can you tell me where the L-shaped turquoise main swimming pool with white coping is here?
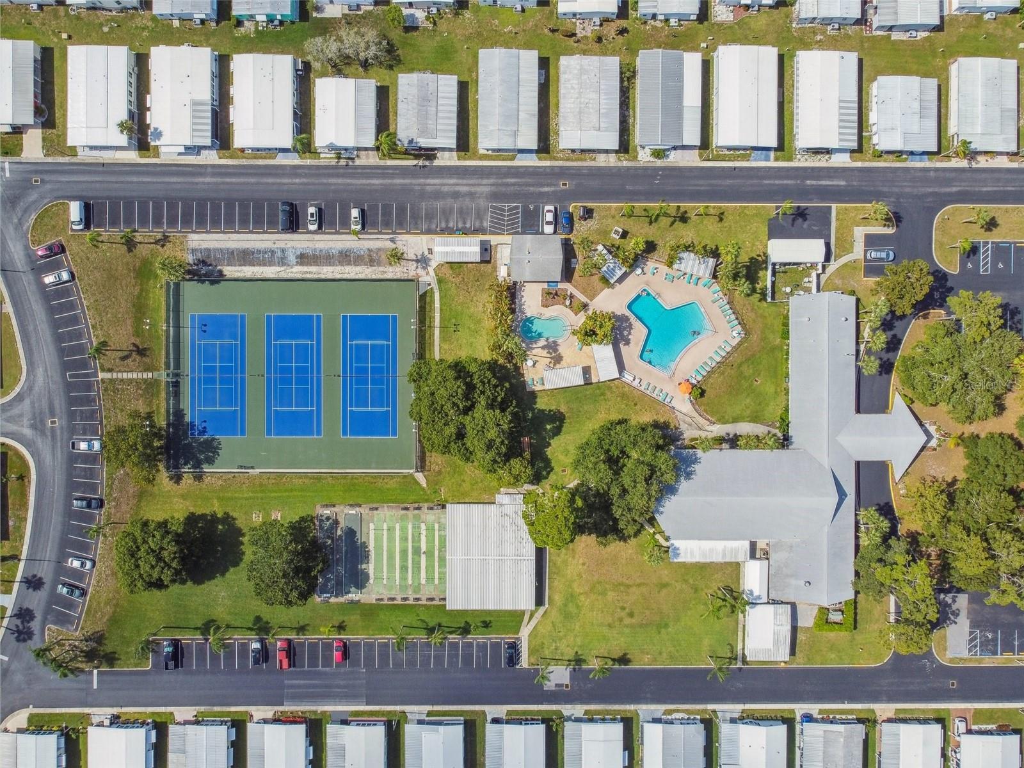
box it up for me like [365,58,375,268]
[626,286,718,377]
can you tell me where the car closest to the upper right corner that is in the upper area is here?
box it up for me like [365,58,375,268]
[867,249,893,261]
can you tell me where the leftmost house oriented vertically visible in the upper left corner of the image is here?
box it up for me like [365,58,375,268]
[0,39,42,132]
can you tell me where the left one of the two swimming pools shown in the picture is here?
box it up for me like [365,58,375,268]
[519,314,572,342]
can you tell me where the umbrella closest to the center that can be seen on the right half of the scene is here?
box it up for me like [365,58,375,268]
[678,381,692,395]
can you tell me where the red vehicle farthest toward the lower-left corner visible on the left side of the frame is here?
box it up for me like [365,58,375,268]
[277,638,290,670]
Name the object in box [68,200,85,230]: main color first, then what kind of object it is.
white vehicle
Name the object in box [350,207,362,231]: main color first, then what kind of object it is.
white vehicle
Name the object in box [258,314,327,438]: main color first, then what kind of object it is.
blue tennis court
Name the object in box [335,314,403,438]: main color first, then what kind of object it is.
blue tennis court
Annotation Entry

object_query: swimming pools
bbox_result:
[626,286,718,377]
[519,314,572,342]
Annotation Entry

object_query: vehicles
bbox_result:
[35,243,63,258]
[74,498,102,510]
[867,249,893,261]
[70,440,103,453]
[350,207,362,231]
[250,639,263,666]
[279,202,293,234]
[492,717,501,723]
[162,639,177,671]
[543,206,555,234]
[307,206,319,231]
[801,713,814,736]
[68,200,85,230]
[43,270,72,285]
[277,638,290,670]
[58,582,85,598]
[953,713,967,735]
[68,556,95,571]
[561,211,572,235]
[504,640,516,666]
[333,639,345,663]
